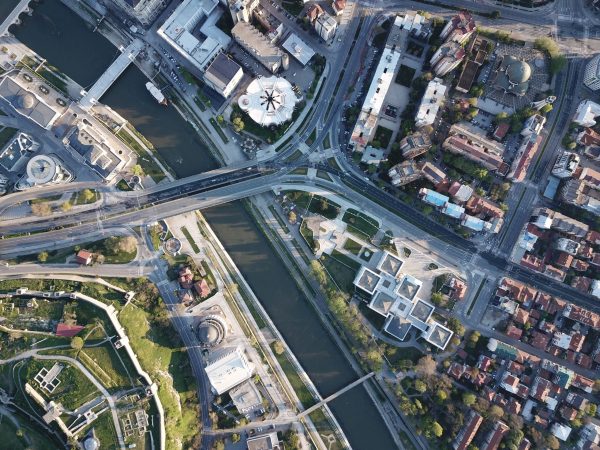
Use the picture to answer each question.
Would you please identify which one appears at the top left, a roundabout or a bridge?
bridge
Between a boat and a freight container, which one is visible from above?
boat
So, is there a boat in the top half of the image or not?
Yes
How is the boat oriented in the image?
on a diagonal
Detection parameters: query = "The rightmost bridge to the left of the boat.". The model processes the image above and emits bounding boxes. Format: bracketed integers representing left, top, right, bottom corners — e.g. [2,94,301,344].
[77,40,146,114]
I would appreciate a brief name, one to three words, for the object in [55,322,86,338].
shed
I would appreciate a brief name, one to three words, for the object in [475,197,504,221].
building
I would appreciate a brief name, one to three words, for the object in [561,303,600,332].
house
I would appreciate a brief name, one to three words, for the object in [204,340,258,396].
building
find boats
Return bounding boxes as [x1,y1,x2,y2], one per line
[144,80,168,106]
